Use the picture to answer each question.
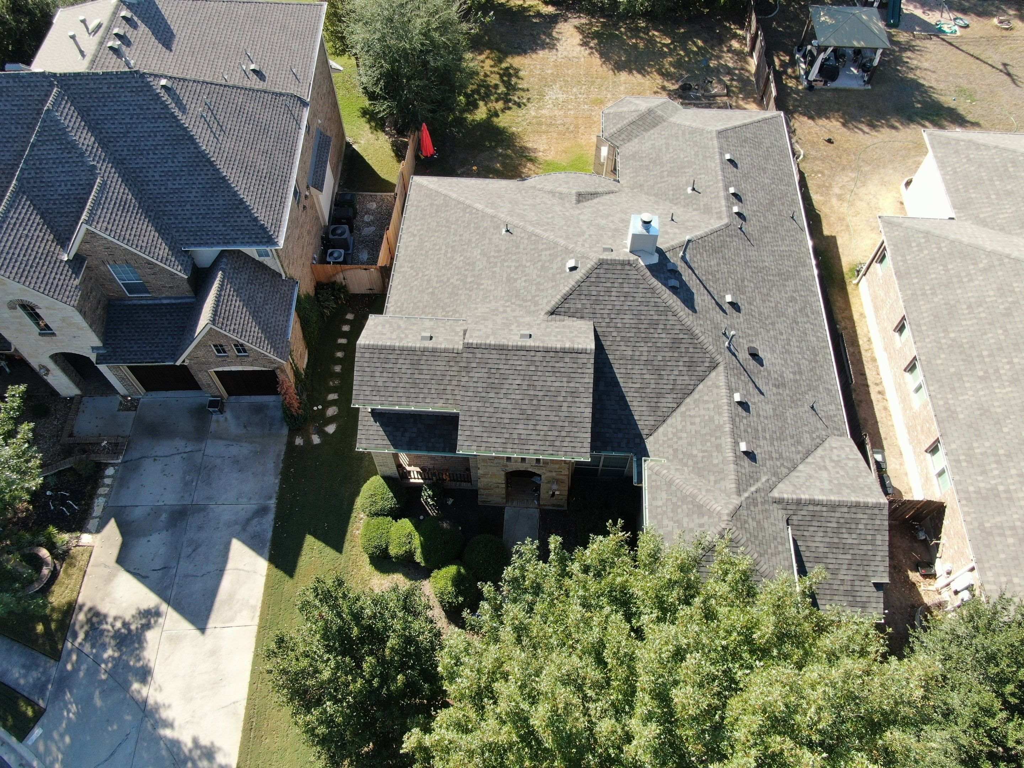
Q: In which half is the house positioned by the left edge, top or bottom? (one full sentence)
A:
It is in the top half that the house positioned by the left edge appears.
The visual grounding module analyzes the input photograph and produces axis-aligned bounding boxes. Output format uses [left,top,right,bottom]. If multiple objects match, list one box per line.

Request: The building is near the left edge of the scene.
[0,0,340,399]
